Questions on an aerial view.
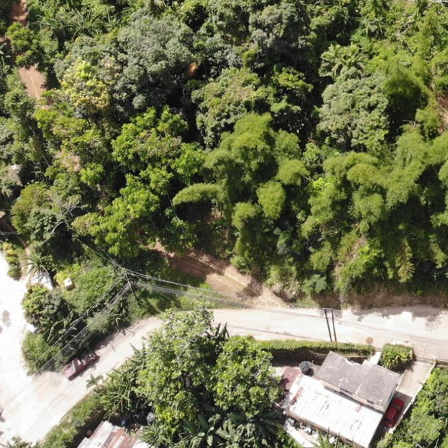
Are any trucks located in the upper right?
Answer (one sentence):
No, there is no truck in the upper right.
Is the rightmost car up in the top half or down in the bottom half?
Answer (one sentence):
It is in the bottom half that the rightmost car appears.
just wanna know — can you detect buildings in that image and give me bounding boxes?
[83,421,154,448]
[287,351,400,448]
